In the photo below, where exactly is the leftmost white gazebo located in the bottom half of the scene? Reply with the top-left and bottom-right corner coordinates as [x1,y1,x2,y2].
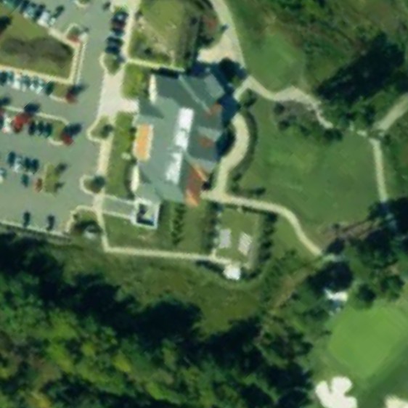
[223,264,240,282]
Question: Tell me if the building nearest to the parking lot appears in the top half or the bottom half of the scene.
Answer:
top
